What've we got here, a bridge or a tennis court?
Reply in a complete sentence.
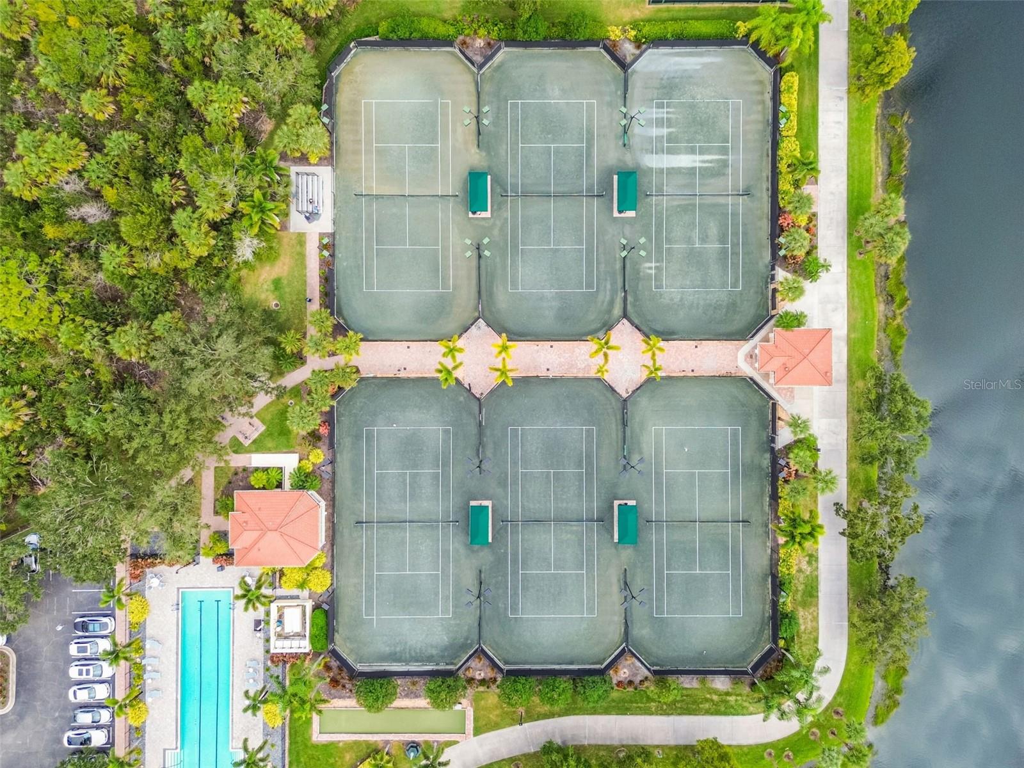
The one in the frame is a tennis court.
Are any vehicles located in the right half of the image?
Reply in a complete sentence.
No, the scene shows no vehicle in the right half of the image.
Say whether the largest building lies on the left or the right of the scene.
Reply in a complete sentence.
The largest building sits on the left side.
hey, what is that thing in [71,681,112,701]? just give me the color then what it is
white car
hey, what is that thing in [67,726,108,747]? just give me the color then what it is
white car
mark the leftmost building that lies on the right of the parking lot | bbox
[228,490,326,567]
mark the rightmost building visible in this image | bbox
[756,328,833,386]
